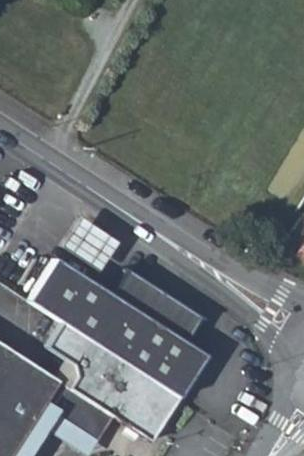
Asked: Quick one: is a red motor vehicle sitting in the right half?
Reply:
No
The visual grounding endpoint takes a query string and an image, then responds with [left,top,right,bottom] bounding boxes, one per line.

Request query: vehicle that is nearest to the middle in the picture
[132,225,153,242]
